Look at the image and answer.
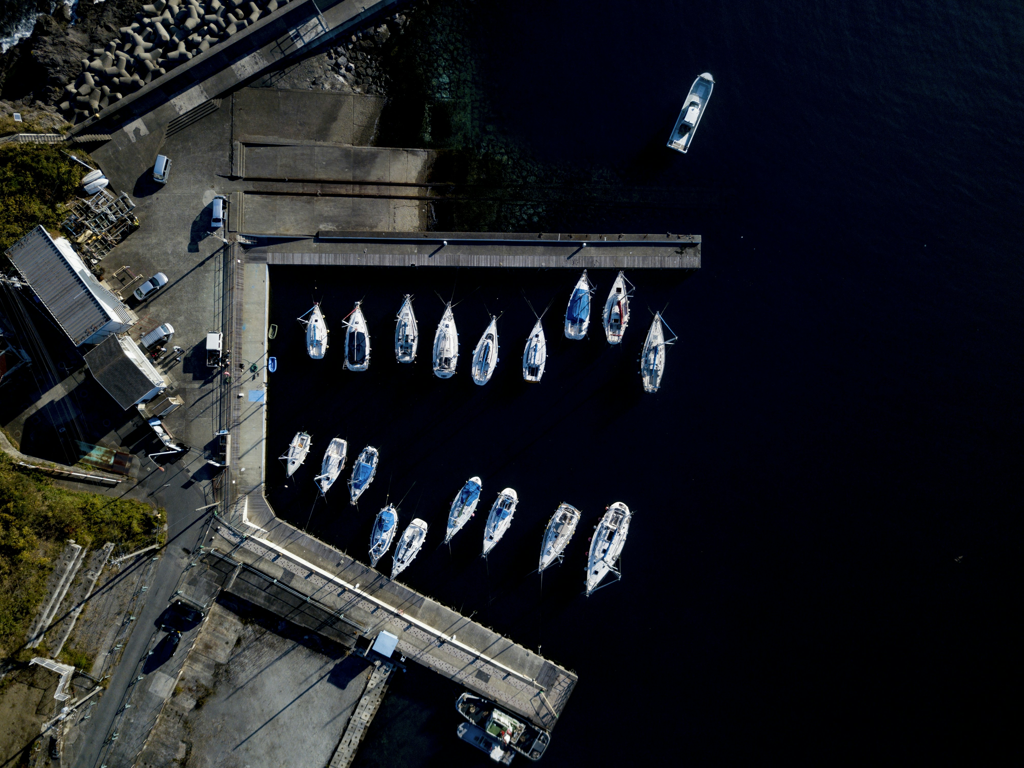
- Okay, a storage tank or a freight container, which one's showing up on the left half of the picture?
freight container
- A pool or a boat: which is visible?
boat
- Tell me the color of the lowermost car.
black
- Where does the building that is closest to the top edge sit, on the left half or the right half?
left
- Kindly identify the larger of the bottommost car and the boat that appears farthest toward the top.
the boat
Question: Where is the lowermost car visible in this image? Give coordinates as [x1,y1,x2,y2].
[156,630,183,666]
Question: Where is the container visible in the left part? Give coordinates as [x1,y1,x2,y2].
[74,440,135,475]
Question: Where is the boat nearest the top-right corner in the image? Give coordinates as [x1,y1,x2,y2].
[667,72,716,155]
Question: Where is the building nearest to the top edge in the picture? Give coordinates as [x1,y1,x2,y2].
[0,224,152,349]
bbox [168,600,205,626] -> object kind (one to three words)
car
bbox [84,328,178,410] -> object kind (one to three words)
building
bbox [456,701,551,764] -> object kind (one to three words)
boat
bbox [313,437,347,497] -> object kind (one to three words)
boat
